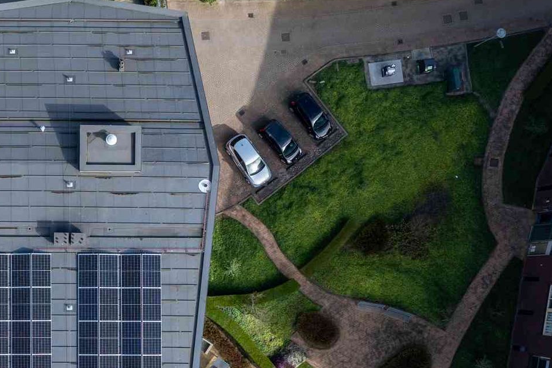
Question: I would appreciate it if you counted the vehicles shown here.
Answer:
three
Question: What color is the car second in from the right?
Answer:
black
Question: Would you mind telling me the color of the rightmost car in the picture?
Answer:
black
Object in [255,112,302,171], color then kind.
black car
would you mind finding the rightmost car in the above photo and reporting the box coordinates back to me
[285,86,332,146]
